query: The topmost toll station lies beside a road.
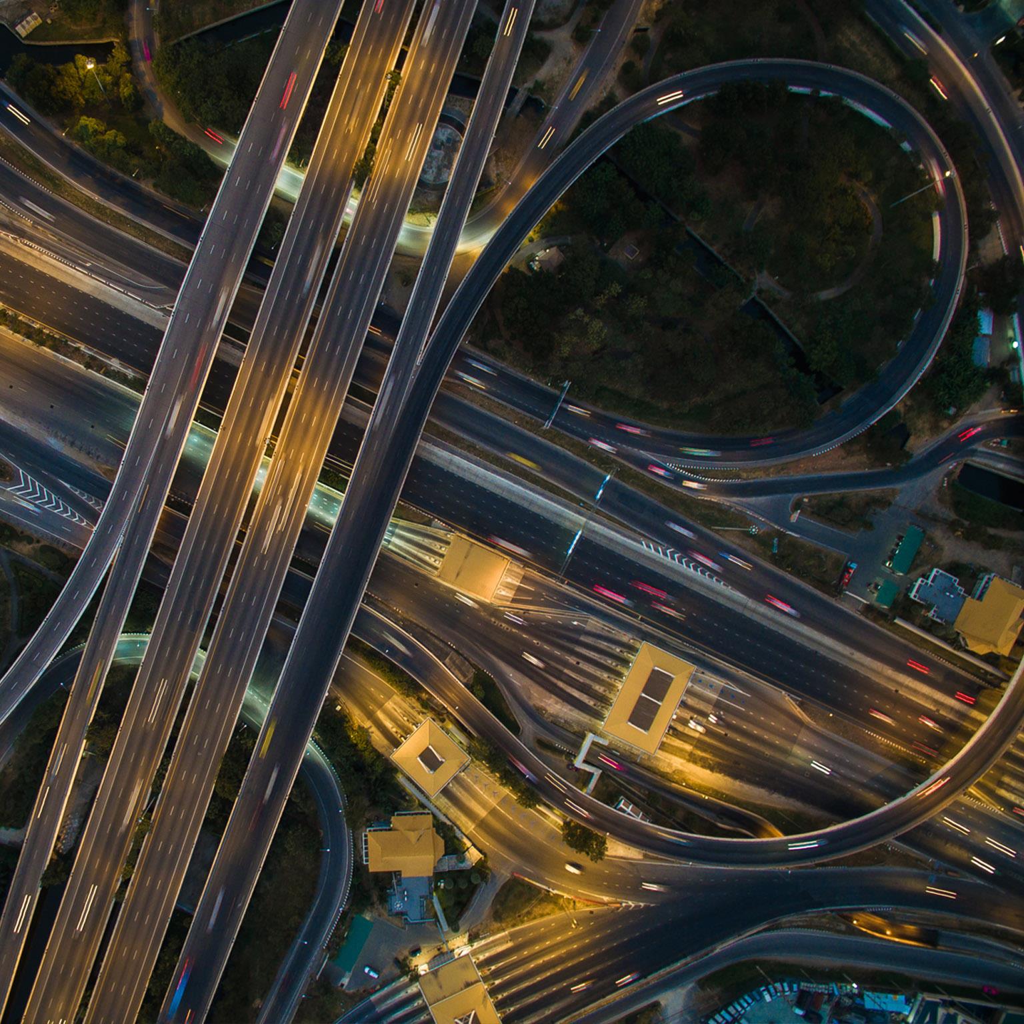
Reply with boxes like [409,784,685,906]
[411,530,523,603]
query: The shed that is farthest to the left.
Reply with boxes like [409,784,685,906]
[15,11,44,40]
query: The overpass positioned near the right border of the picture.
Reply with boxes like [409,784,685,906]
[852,0,1024,399]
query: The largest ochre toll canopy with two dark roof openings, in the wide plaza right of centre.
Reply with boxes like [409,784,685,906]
[558,625,709,755]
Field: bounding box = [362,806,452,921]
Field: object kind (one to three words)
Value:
building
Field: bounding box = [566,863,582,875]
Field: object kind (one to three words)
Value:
vehicle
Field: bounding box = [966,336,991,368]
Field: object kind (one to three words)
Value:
shed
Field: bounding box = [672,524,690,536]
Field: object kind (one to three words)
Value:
vehicle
